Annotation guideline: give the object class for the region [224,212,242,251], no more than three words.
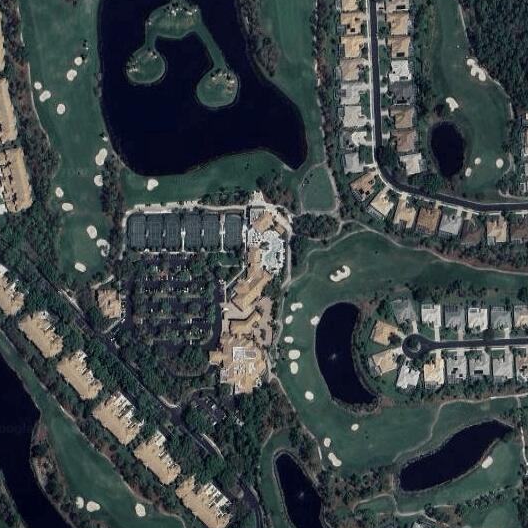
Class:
tennis court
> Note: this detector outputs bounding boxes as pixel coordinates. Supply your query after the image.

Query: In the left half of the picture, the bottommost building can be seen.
[175,476,230,528]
